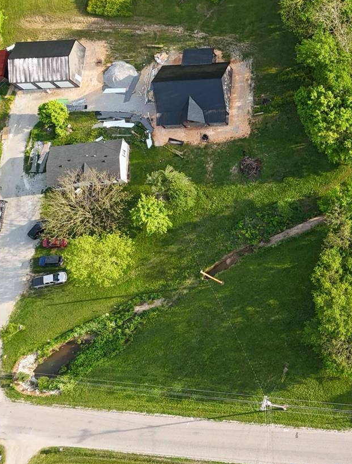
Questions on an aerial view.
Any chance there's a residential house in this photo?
Yes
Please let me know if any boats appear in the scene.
No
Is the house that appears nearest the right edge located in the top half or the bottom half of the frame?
top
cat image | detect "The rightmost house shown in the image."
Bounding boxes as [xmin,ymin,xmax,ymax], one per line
[150,48,232,133]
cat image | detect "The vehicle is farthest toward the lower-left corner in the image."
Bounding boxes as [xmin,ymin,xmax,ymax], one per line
[32,273,68,287]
